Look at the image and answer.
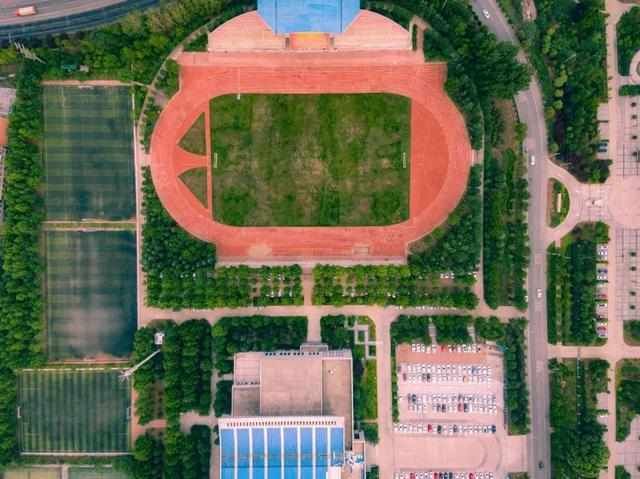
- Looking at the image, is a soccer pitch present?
Yes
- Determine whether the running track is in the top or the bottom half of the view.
top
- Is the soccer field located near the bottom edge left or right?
left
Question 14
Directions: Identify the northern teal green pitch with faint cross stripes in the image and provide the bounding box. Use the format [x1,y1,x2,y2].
[43,85,134,219]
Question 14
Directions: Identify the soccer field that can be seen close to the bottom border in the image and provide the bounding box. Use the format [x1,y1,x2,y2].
[18,368,131,455]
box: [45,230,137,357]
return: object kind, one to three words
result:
soccer field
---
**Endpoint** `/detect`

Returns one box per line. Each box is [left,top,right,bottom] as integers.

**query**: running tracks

[149,51,471,259]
